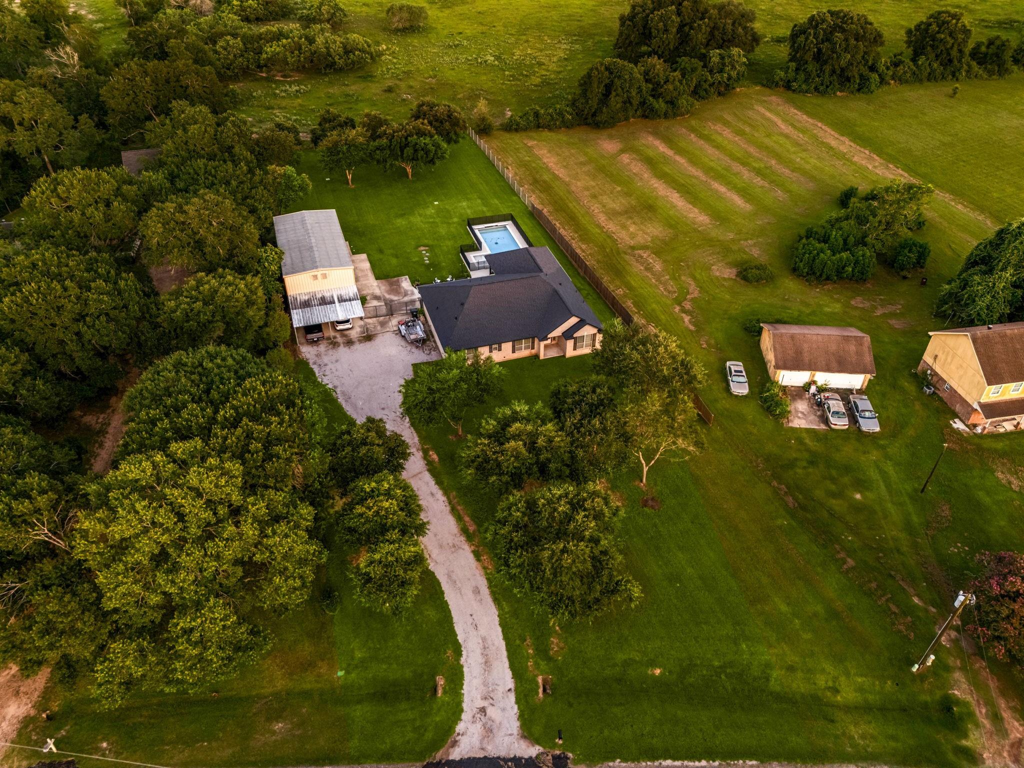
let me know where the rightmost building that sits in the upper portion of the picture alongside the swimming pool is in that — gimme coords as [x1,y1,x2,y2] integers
[418,248,604,365]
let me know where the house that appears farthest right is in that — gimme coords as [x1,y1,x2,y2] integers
[917,322,1024,436]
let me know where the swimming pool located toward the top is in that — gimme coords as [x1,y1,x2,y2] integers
[459,220,533,280]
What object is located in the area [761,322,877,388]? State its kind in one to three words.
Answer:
building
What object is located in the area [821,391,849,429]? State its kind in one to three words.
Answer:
car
